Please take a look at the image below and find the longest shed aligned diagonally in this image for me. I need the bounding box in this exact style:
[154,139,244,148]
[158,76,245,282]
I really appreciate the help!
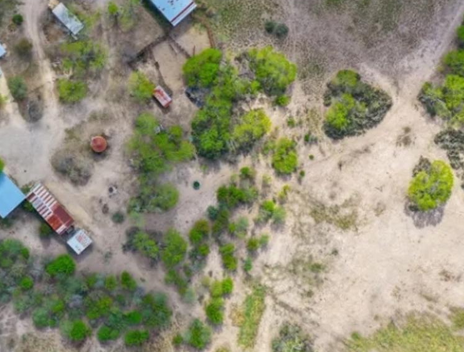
[26,184,75,234]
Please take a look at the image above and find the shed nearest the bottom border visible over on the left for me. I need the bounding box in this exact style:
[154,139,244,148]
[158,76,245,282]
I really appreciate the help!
[67,229,92,255]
